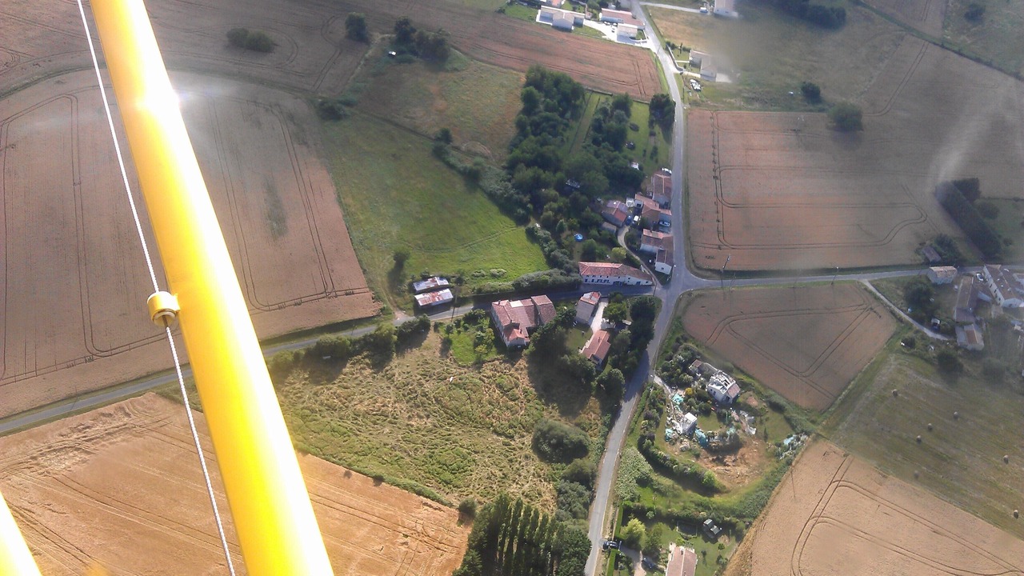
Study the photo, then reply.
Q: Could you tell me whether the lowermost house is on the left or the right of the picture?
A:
right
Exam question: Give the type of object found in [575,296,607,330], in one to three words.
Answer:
house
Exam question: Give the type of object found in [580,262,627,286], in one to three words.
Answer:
house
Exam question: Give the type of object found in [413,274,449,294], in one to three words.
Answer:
barn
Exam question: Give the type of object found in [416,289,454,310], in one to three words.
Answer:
barn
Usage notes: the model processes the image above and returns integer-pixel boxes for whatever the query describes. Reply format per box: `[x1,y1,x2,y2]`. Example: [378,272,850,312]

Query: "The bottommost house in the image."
[661,545,694,576]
